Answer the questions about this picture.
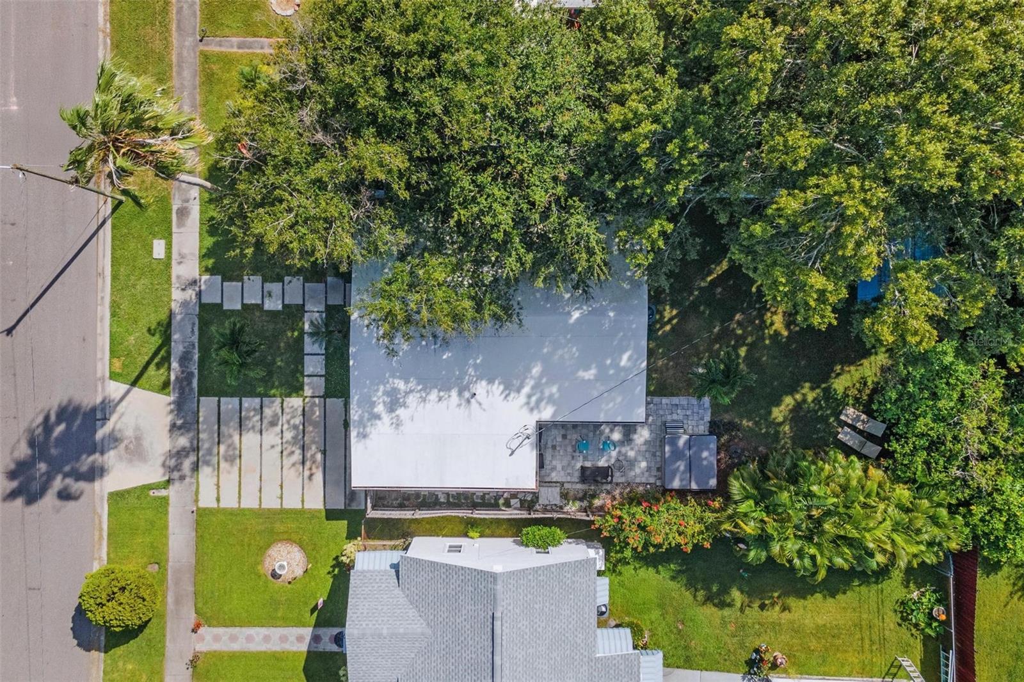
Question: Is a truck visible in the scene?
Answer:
No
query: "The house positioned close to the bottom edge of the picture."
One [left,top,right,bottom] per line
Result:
[343,532,663,682]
